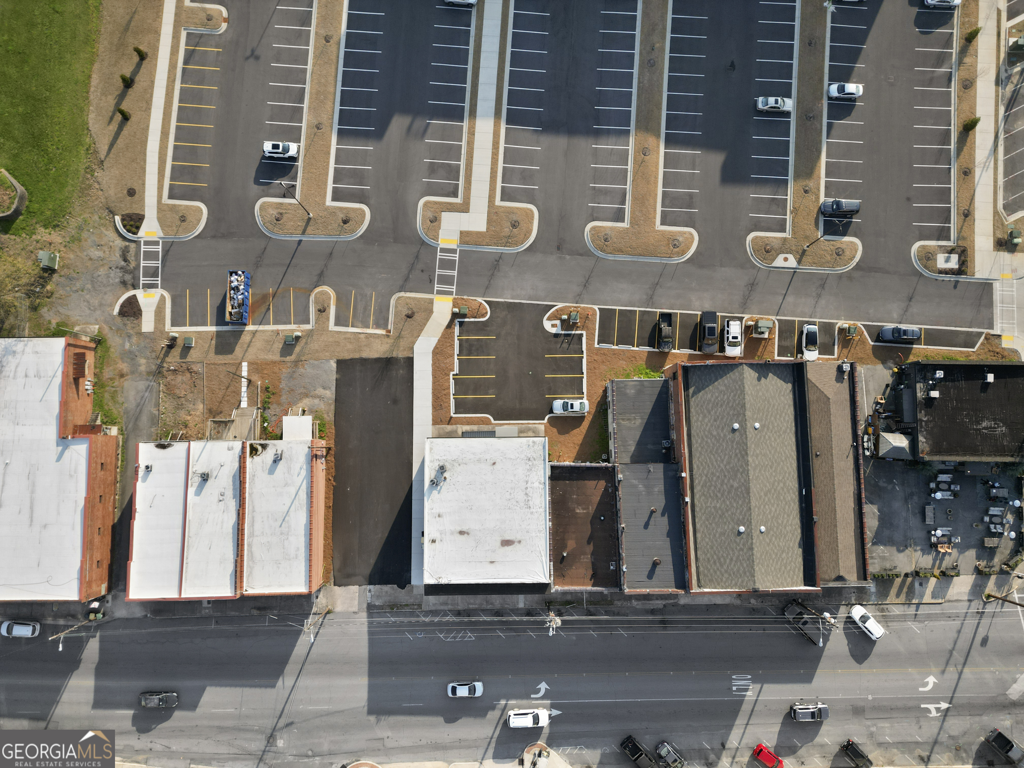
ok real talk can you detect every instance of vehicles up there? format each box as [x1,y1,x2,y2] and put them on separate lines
[787,702,831,723]
[839,738,874,768]
[985,728,1024,768]
[825,83,863,101]
[656,310,675,355]
[507,707,549,729]
[552,399,589,415]
[755,97,791,115]
[723,318,742,358]
[447,679,485,699]
[754,742,791,768]
[820,200,859,218]
[2,619,42,638]
[922,0,960,11]
[782,603,825,647]
[139,689,180,709]
[800,325,820,361]
[263,141,300,160]
[879,325,920,343]
[850,604,884,642]
[700,310,719,355]
[620,733,655,768]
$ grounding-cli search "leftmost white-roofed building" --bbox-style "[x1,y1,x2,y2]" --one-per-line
[0,336,122,603]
